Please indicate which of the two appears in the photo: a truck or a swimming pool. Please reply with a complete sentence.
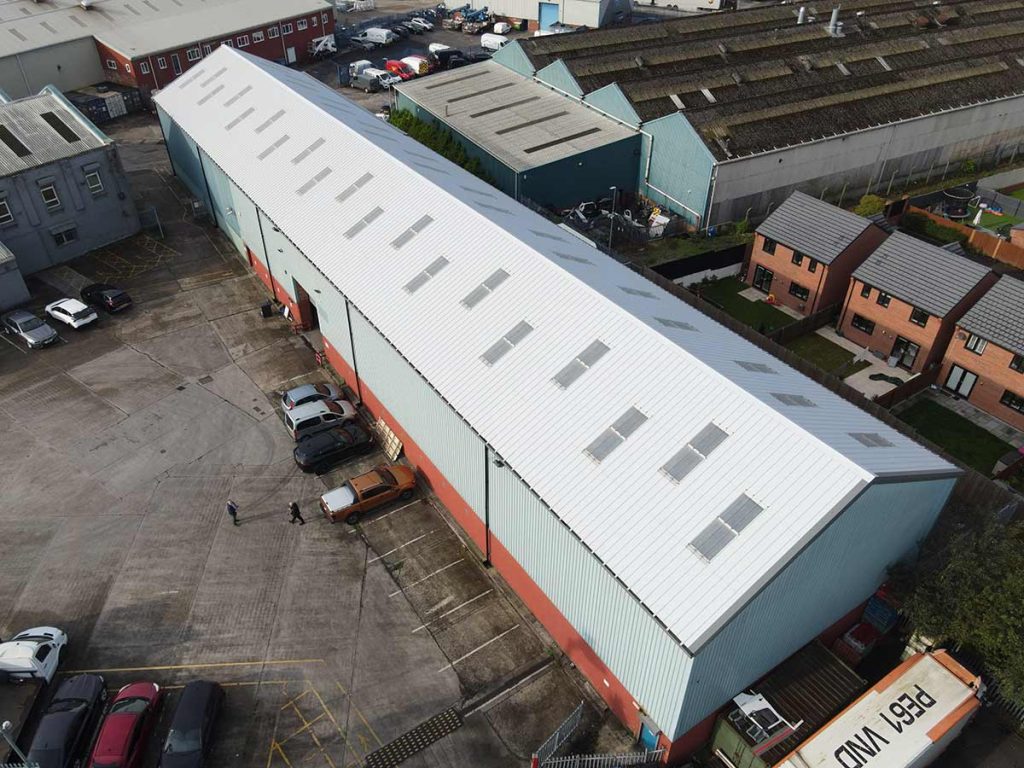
Looking from above, you can make out a truck.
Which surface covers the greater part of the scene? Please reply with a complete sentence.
The scene is dominated by buildings.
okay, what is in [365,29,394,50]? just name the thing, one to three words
vehicle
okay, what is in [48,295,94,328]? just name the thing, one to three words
car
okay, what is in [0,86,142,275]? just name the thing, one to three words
building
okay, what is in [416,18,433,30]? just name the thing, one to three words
vehicle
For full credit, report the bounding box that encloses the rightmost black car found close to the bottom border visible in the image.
[145,681,224,768]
